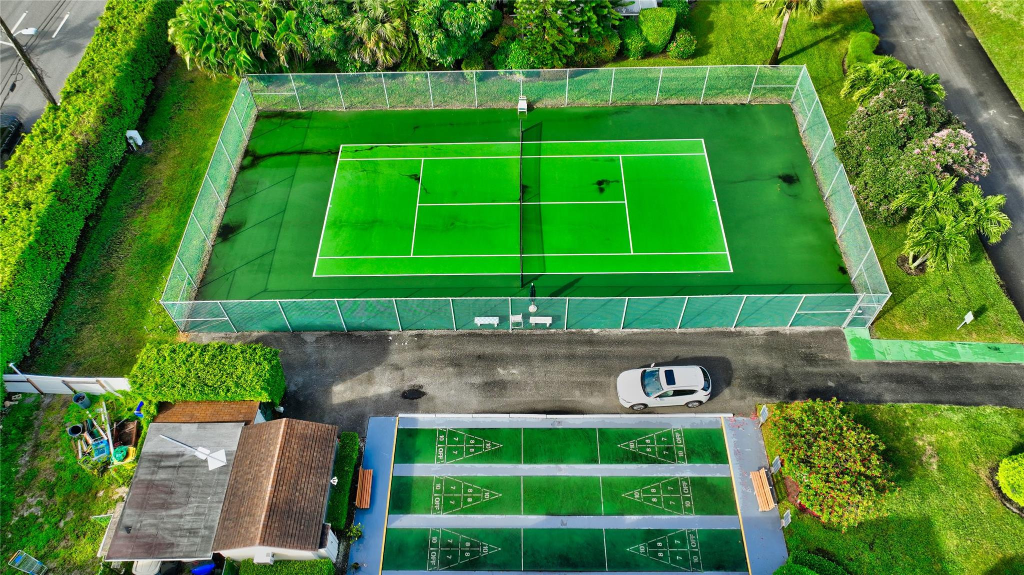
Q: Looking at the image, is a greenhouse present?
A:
No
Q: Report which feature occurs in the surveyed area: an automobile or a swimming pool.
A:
automobile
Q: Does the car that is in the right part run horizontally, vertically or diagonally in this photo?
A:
horizontally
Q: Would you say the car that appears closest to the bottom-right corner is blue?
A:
No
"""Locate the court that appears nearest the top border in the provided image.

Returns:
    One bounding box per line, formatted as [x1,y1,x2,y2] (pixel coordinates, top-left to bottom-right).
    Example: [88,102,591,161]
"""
[186,103,866,331]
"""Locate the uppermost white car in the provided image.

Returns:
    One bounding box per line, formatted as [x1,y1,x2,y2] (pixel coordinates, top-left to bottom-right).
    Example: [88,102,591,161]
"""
[618,361,713,407]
